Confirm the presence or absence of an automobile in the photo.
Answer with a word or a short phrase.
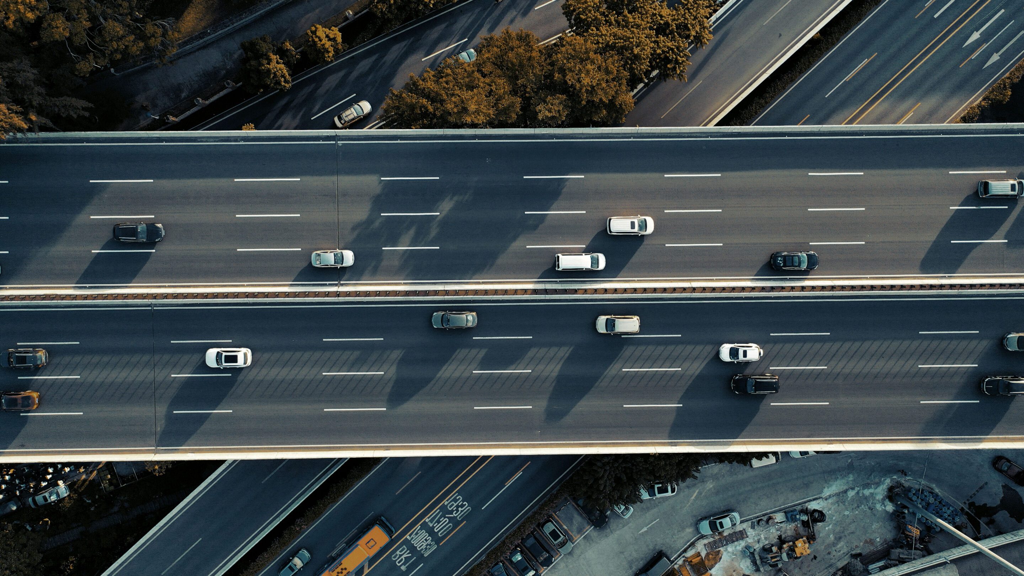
Yes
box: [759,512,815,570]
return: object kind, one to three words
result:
work vehicle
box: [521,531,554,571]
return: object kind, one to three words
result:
car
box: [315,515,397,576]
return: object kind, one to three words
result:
bus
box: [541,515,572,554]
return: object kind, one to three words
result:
car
